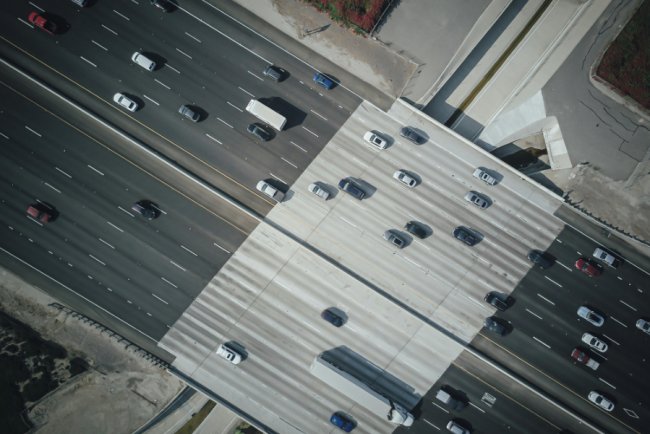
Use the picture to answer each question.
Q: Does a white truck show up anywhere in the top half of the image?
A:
Yes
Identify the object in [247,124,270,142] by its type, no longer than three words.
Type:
car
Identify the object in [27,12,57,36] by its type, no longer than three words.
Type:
truck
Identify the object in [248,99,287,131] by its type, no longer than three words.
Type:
truck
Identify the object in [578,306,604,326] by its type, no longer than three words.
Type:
car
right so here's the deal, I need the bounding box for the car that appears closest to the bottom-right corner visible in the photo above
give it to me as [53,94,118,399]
[589,391,614,410]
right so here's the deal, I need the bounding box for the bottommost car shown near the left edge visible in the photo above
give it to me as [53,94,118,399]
[25,206,51,224]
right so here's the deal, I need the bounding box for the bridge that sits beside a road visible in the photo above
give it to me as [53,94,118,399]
[159,98,569,434]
